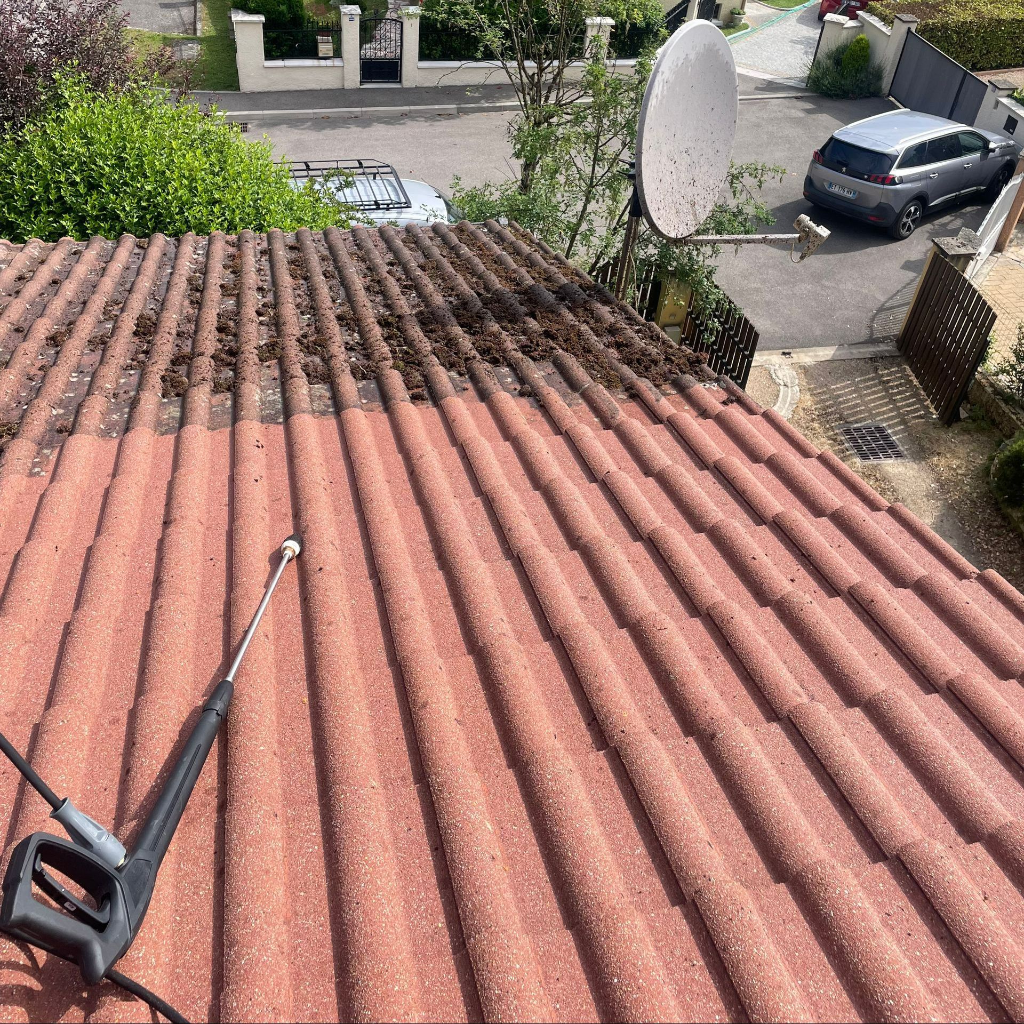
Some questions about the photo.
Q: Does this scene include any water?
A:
No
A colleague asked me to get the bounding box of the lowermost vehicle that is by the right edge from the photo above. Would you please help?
[795,102,1020,238]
